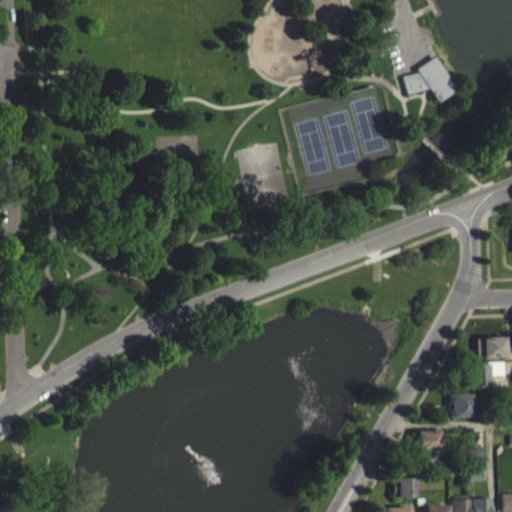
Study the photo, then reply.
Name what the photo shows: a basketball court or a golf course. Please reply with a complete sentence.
Looking from above, you can make out a basketball court.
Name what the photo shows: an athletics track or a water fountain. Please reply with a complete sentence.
The image shows a water fountain.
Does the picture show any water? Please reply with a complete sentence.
Yes, water can be seen from above here.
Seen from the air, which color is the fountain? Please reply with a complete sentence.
From above, the fountain appears white.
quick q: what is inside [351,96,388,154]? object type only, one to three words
tennis court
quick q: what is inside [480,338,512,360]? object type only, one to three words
house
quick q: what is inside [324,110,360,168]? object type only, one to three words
tennis court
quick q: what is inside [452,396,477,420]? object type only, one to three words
house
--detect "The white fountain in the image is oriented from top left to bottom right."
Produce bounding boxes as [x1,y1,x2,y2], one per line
[186,446,223,489]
